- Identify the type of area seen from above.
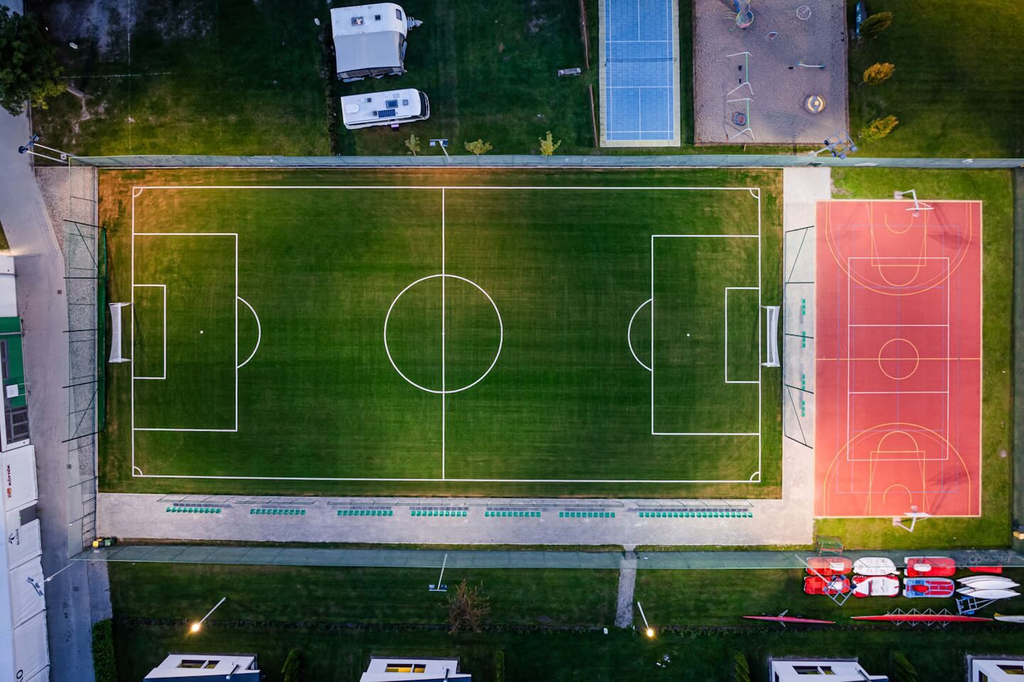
sports ground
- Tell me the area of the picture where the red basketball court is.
right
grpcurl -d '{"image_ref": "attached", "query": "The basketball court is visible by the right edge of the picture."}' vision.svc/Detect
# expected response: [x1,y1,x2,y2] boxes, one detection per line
[816,200,982,517]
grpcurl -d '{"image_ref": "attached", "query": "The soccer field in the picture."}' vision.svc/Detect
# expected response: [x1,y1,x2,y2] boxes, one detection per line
[99,169,782,500]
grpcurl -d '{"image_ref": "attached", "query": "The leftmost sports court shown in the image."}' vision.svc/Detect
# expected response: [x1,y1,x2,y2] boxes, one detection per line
[599,0,680,146]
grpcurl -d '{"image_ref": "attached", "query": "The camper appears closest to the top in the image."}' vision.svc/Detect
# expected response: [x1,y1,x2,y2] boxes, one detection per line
[331,4,425,37]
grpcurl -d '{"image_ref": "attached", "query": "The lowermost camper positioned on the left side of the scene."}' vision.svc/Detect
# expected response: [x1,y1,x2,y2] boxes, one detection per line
[340,88,433,131]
